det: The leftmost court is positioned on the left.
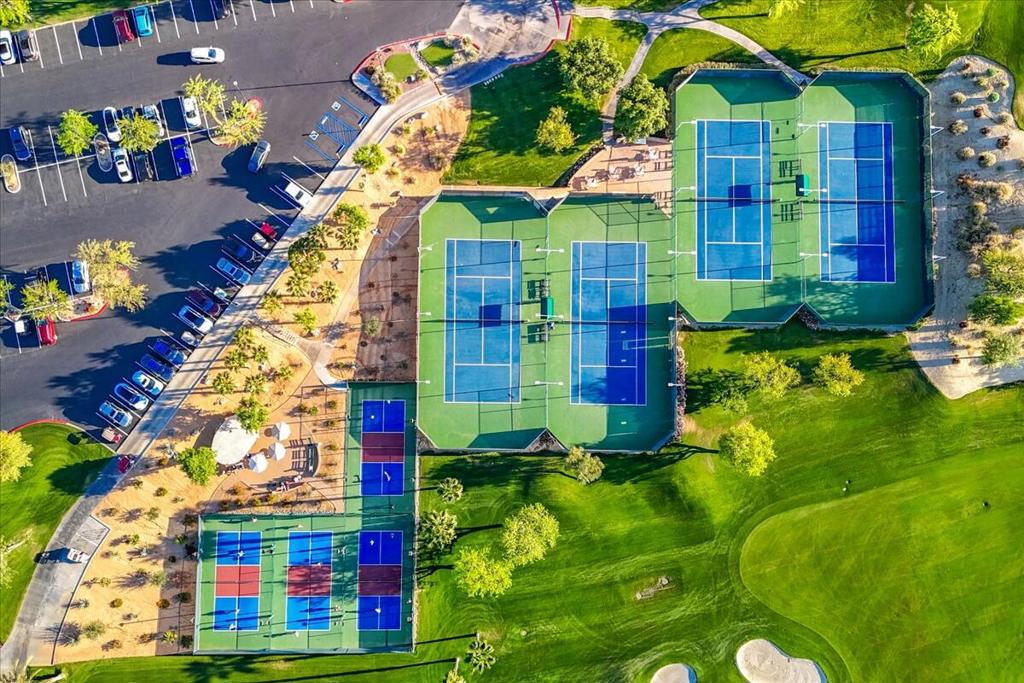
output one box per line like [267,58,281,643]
[200,514,274,648]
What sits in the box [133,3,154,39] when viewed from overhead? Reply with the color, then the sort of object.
blue truck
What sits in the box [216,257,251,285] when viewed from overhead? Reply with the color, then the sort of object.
blue car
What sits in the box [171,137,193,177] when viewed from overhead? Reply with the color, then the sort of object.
blue truck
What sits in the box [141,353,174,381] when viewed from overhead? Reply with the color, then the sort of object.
blue car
